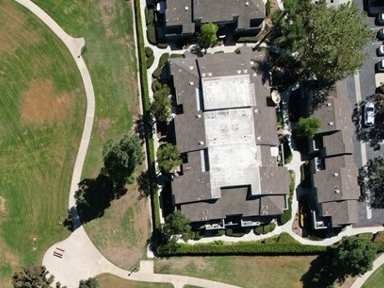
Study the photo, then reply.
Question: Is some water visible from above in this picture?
No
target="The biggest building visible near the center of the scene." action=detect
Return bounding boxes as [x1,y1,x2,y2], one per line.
[167,49,289,223]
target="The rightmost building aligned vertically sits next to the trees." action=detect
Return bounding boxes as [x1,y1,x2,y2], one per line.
[302,77,360,227]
